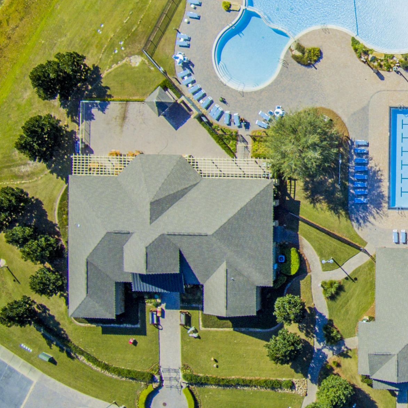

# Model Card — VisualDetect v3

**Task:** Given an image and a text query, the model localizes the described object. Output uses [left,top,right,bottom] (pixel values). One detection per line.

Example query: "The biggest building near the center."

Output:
[69,154,280,318]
